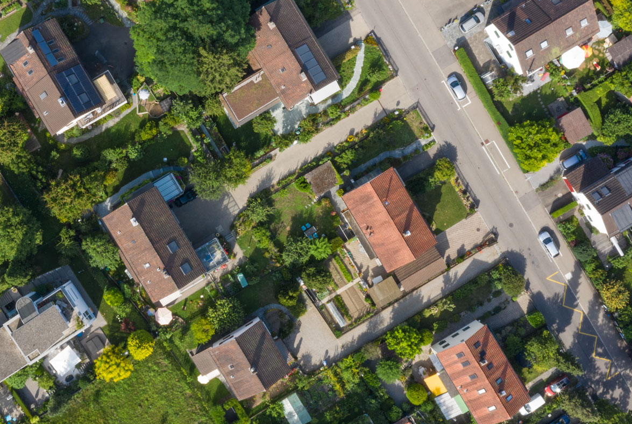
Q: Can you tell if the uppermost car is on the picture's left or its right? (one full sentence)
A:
The uppermost car is on the right side of the image.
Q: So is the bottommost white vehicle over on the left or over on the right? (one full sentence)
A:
You can find the bottommost white vehicle on the right side of the picture.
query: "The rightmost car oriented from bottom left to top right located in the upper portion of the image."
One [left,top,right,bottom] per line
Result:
[559,147,587,171]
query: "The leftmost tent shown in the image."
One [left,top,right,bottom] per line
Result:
[49,342,82,377]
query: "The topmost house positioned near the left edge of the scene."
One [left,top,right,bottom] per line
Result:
[0,21,127,135]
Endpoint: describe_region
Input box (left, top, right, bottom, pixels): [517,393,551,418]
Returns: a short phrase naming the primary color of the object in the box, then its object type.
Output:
white vehicle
